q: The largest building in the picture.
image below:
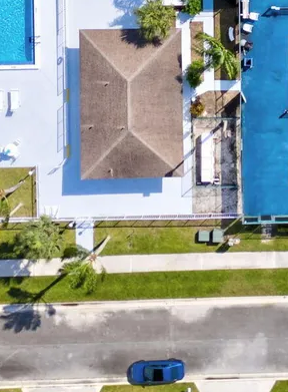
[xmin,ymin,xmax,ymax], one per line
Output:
[79,28,185,180]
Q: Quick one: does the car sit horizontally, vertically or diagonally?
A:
horizontally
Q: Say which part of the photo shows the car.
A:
bottom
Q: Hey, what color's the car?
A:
blue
